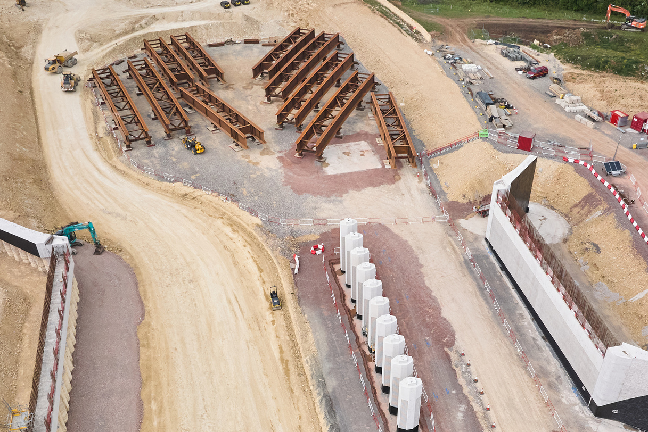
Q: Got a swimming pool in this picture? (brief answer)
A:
No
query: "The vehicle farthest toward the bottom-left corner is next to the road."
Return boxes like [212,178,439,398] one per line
[54,219,113,253]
